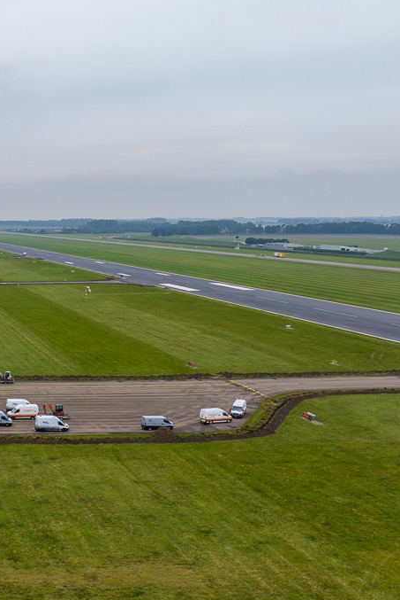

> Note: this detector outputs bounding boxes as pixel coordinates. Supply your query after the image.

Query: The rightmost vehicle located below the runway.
[224,399,243,418]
